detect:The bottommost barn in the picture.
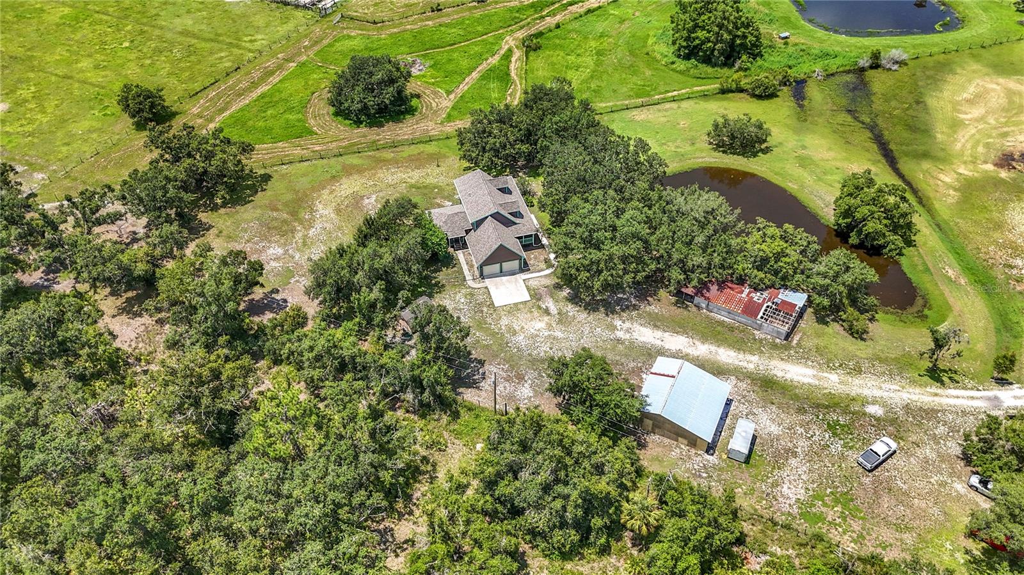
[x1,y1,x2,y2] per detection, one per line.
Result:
[640,358,730,453]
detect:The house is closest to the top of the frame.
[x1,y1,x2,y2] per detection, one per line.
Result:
[425,169,545,277]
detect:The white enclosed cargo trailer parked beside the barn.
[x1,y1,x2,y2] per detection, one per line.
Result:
[726,417,754,463]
